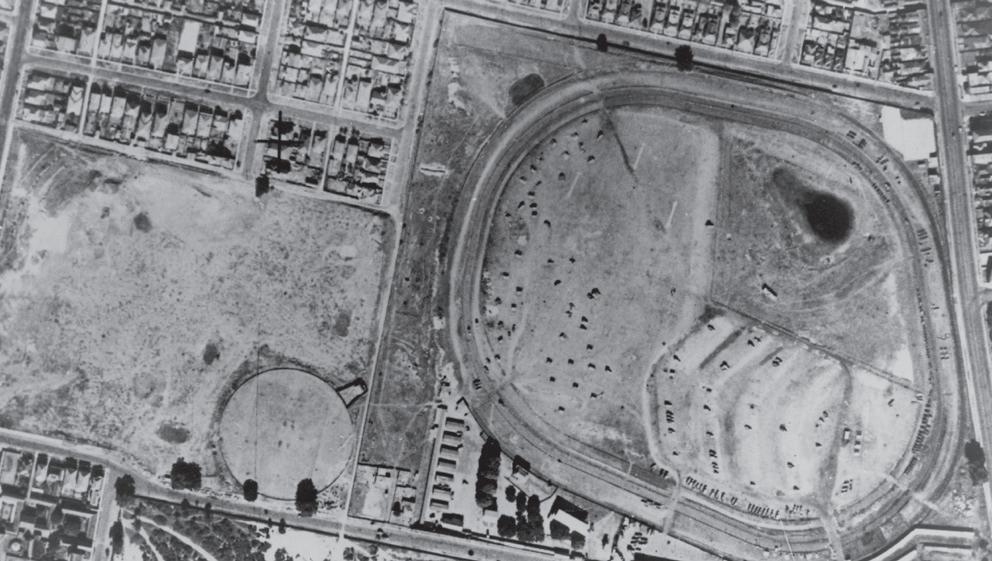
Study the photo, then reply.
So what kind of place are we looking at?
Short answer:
sports ground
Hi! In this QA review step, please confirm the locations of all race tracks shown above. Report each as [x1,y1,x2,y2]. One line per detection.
[435,69,968,561]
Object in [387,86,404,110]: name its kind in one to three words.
house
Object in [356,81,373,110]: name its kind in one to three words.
house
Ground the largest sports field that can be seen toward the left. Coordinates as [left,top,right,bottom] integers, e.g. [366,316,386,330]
[220,366,354,500]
